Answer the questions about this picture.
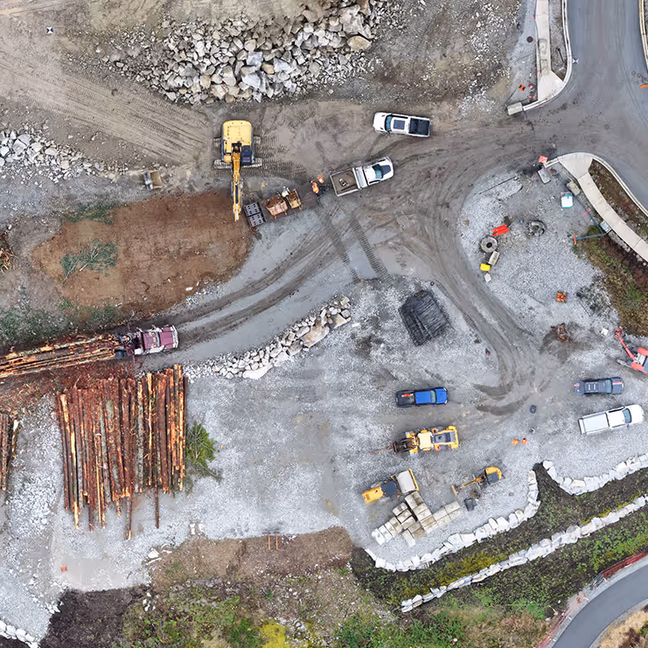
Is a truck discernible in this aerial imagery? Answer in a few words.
Yes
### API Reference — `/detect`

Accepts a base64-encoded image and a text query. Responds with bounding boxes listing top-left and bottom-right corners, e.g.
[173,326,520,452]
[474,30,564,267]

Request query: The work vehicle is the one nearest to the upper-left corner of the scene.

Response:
[212,120,264,220]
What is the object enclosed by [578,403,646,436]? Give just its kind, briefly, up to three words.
truck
